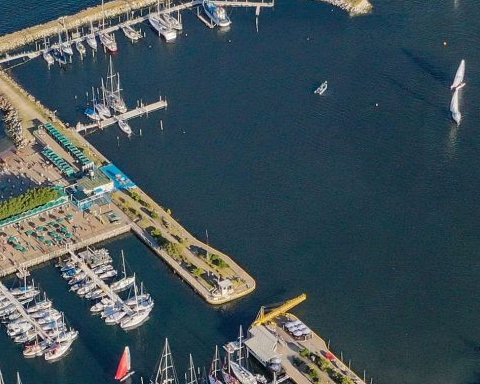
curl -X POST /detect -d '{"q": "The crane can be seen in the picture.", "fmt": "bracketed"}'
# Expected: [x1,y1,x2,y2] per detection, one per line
[250,292,306,326]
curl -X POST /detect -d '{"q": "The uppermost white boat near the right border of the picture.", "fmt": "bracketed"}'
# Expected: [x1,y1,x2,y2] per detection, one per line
[447,59,469,91]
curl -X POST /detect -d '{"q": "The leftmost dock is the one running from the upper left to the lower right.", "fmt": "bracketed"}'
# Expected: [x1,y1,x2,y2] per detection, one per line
[0,277,59,346]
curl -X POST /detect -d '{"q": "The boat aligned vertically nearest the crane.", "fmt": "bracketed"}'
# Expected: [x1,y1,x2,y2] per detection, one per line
[231,307,260,384]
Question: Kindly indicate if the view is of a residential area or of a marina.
marina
